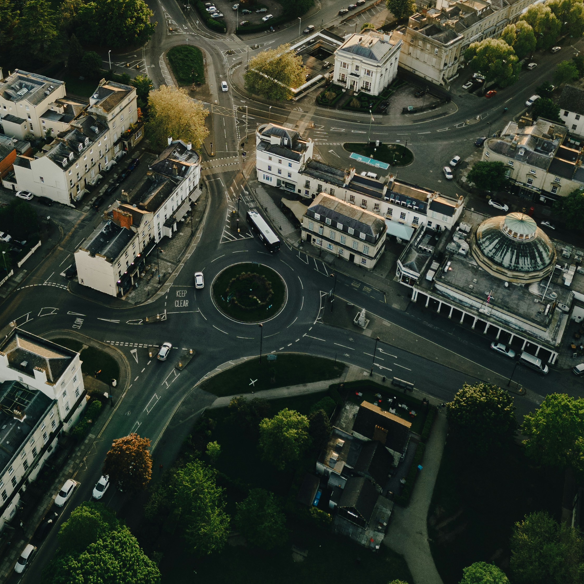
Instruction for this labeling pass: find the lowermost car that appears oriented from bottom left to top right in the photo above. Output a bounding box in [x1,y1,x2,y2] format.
[13,541,39,576]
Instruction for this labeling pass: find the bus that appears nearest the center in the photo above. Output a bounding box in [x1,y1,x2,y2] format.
[246,207,284,257]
